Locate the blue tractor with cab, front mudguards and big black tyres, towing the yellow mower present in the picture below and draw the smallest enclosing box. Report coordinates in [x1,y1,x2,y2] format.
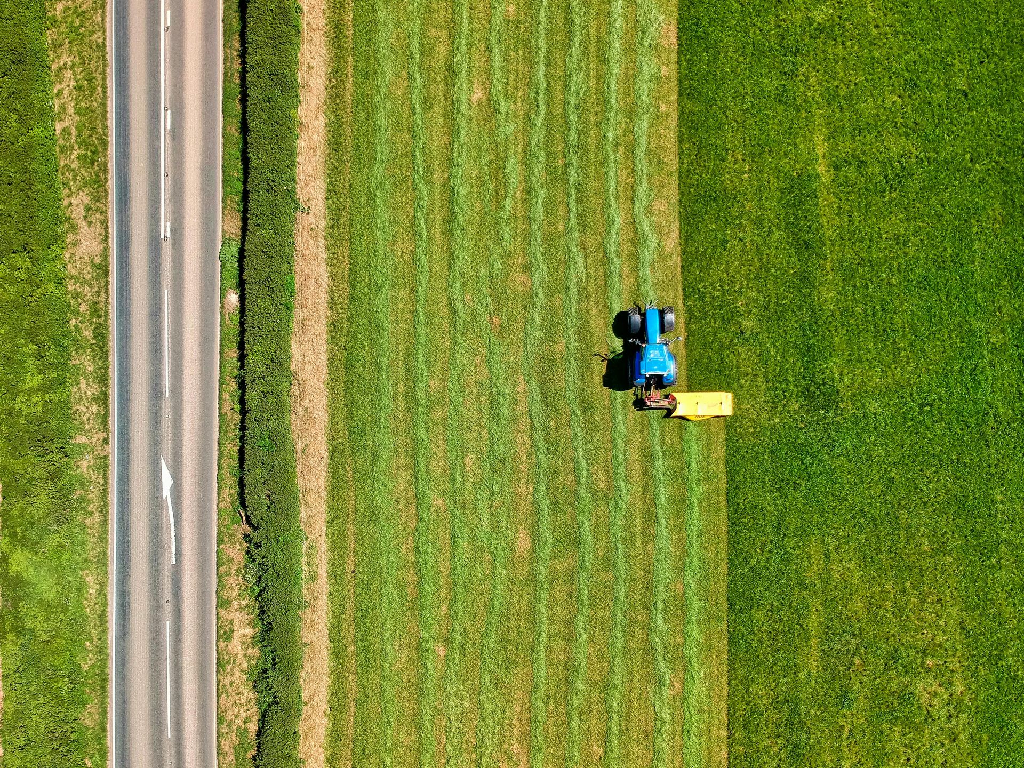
[625,298,682,393]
